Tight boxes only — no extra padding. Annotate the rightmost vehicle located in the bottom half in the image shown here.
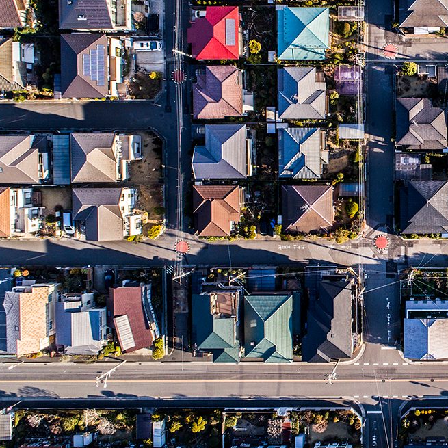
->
[101,264,114,291]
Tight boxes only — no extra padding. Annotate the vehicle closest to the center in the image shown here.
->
[187,125,205,137]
